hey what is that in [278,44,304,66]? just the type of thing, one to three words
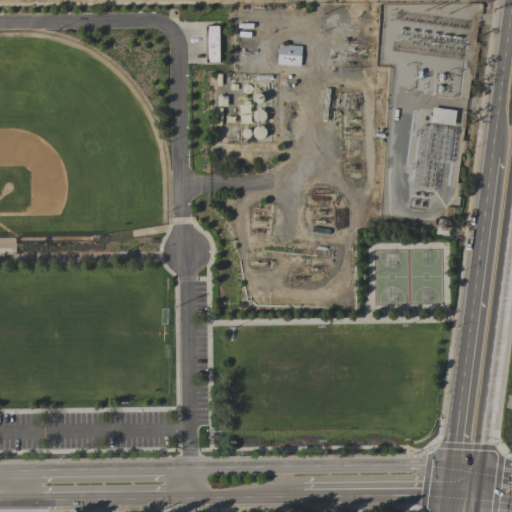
shed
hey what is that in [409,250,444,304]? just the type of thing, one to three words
basketball court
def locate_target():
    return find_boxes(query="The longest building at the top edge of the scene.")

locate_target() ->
[206,25,220,62]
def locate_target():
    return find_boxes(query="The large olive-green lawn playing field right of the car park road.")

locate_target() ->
[212,324,452,434]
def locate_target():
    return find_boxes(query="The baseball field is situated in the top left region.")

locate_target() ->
[0,30,170,236]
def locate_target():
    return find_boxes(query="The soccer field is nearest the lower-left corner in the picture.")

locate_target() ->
[0,258,176,408]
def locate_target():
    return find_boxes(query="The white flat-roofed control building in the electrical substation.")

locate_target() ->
[432,108,458,124]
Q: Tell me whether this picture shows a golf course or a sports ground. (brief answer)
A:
sports ground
